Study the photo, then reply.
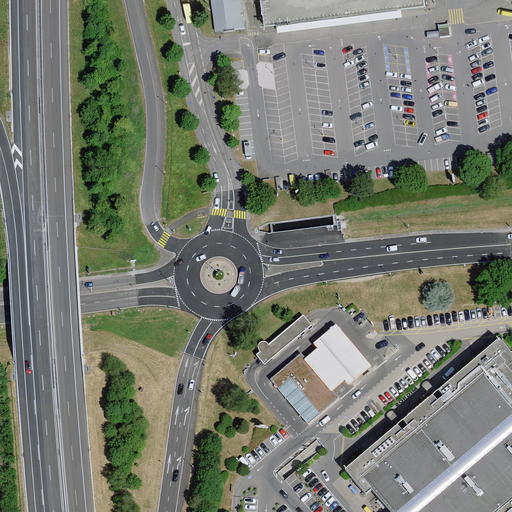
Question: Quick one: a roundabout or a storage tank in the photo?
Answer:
roundabout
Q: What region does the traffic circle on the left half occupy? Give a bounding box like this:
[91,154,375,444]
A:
[136,186,264,360]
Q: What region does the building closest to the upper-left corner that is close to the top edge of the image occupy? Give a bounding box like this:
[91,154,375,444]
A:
[213,0,244,34]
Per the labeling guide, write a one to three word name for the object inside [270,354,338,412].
building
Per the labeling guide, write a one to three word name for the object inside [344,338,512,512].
building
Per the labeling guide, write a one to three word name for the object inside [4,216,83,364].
overpass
